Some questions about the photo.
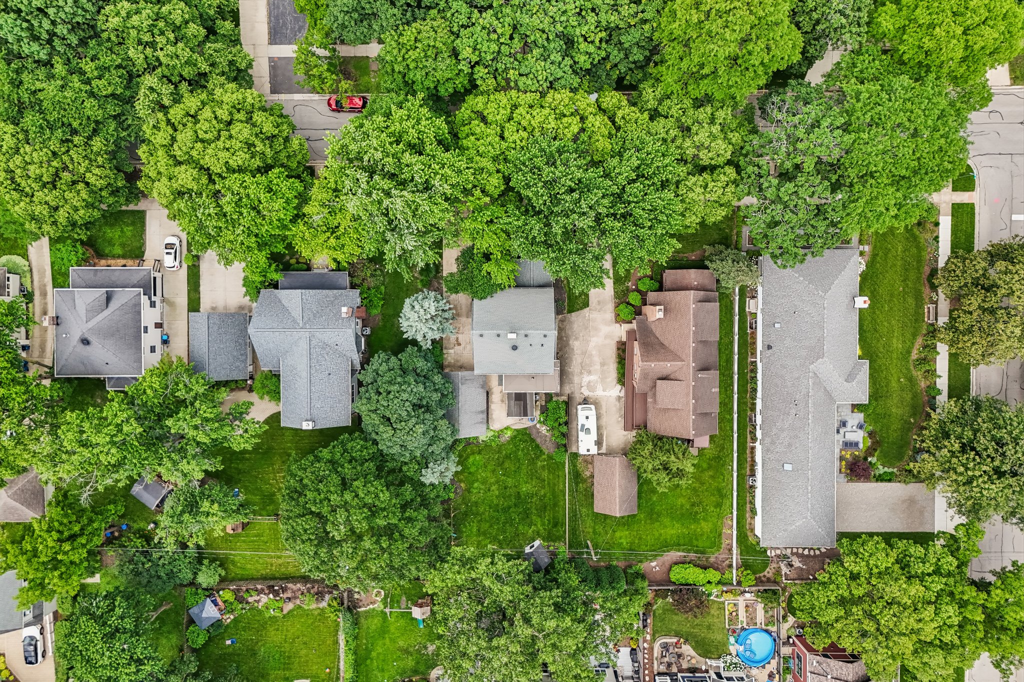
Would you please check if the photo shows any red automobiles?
Yes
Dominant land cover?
trees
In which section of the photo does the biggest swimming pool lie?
bottom right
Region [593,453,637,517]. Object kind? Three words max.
shed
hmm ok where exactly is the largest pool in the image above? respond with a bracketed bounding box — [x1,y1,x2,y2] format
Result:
[731,627,780,668]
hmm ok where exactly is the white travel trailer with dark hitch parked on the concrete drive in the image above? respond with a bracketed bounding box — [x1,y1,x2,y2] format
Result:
[577,395,599,457]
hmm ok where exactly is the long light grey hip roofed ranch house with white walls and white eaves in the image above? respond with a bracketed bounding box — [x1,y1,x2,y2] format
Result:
[754,250,870,547]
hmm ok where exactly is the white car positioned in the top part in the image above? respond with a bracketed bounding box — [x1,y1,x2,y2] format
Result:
[162,237,183,271]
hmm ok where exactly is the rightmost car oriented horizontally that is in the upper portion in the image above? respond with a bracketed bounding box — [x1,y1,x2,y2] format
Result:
[329,97,367,115]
